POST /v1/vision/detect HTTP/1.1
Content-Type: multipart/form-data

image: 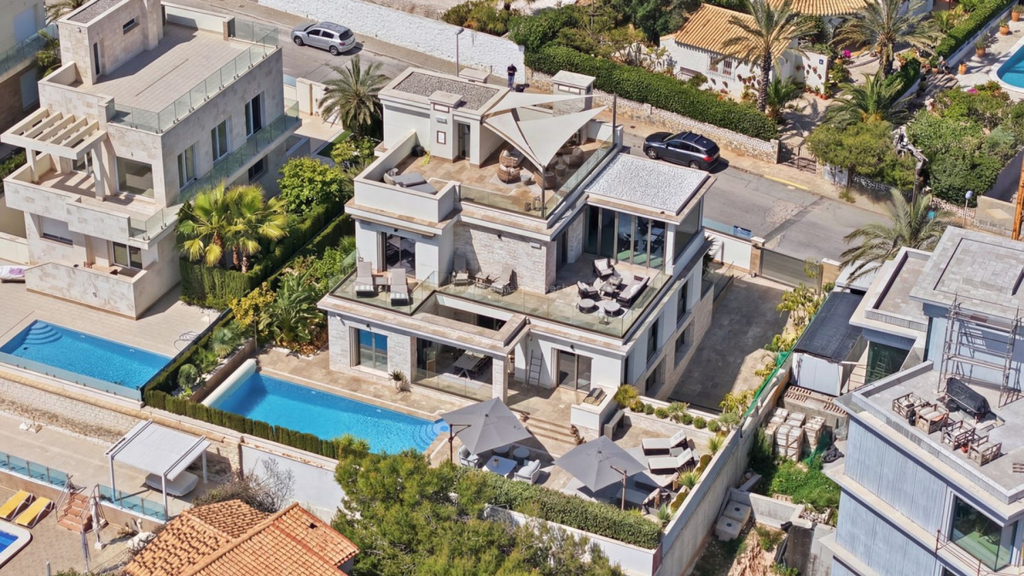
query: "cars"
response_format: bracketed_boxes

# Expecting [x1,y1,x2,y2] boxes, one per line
[639,124,722,171]
[288,16,360,55]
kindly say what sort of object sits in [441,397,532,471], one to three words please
umbrella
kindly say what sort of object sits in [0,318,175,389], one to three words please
swimming pool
